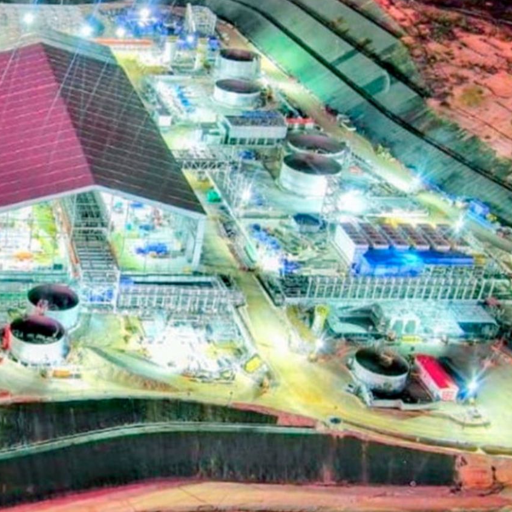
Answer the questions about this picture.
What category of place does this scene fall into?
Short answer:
industrial area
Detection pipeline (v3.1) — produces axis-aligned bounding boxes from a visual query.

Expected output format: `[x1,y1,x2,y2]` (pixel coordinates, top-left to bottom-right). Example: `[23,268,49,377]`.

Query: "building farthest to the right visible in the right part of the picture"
[454,304,505,337]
